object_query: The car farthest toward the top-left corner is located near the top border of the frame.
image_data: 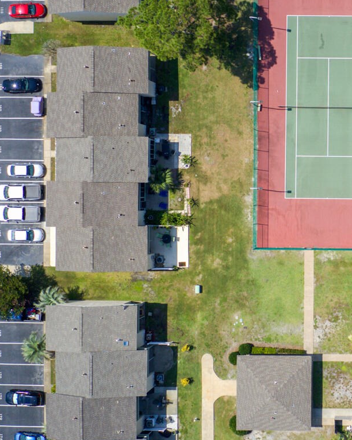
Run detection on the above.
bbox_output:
[8,2,48,19]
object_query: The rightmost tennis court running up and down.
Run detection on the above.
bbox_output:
[278,15,352,199]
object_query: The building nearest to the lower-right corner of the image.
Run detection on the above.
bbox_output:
[236,351,313,431]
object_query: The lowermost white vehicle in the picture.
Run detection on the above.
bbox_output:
[7,227,46,244]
